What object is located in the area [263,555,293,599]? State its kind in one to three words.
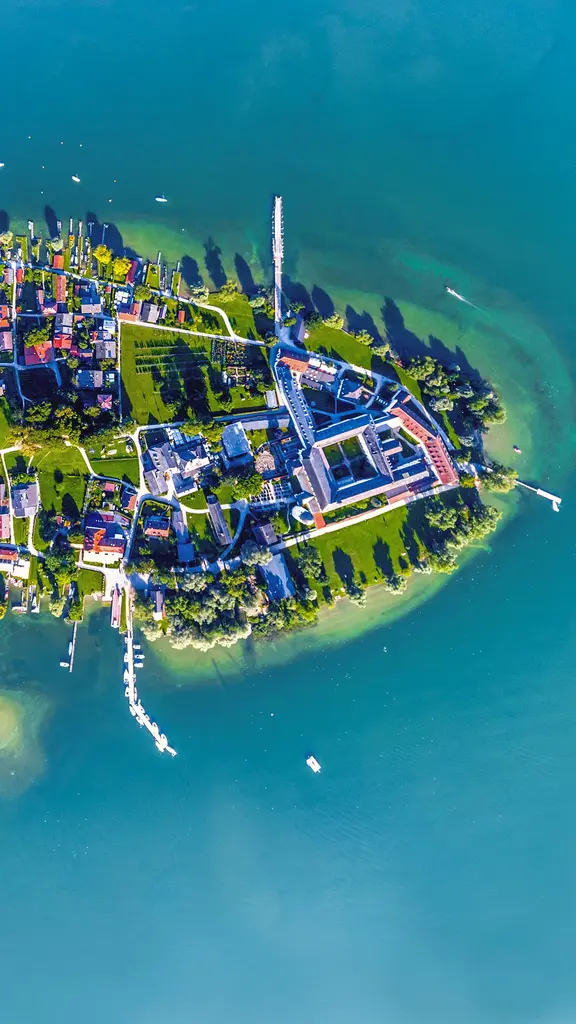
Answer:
building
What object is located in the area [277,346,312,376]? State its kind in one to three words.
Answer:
house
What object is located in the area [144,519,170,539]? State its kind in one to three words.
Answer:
house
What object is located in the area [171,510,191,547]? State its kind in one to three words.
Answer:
barn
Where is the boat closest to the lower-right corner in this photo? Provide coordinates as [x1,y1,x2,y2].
[308,756,322,774]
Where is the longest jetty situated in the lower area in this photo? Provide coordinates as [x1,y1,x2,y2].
[125,628,165,747]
